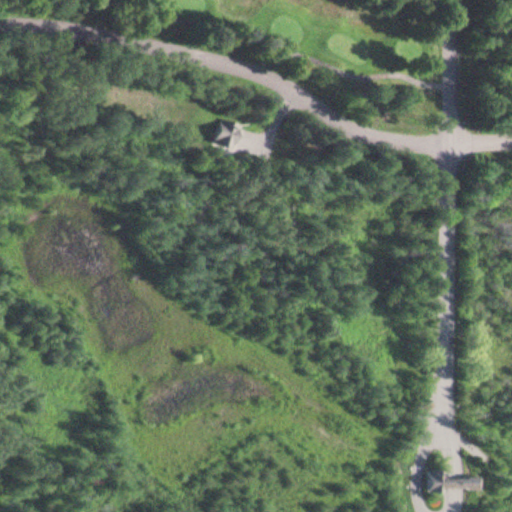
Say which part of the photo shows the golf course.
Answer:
top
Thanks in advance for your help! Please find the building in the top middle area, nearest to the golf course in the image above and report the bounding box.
[215,121,234,147]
